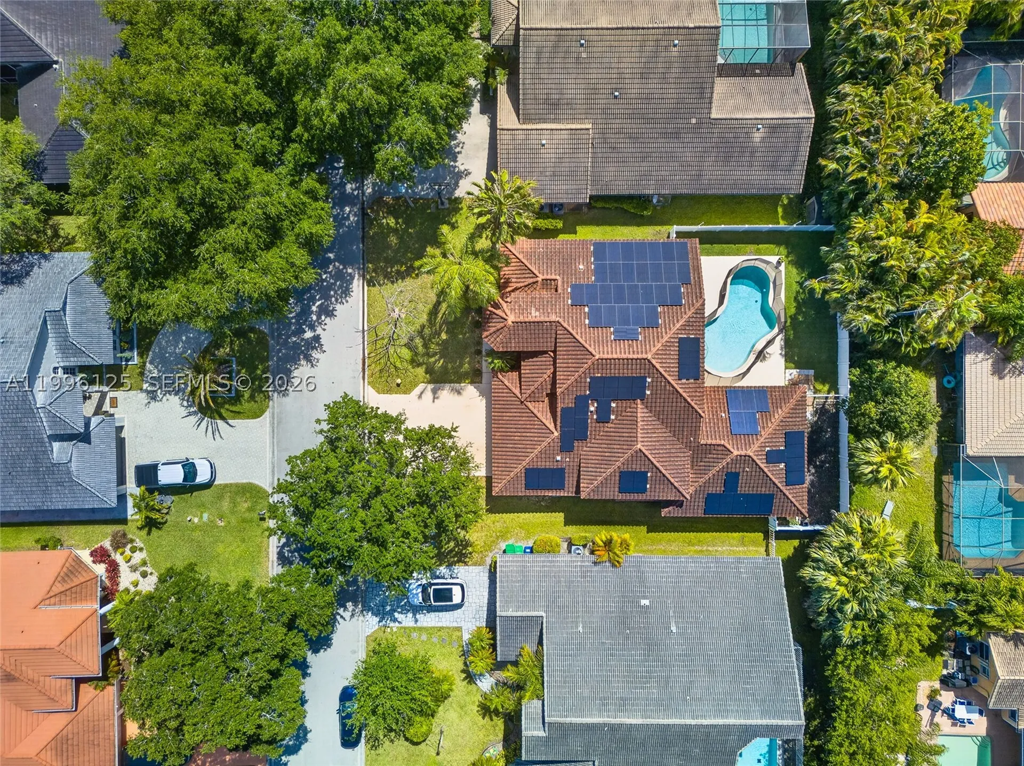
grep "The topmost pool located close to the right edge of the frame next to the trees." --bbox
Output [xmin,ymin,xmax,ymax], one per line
[953,61,1016,183]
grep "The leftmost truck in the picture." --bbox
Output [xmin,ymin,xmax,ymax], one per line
[134,456,219,489]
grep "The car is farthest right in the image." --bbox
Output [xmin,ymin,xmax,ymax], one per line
[407,578,468,611]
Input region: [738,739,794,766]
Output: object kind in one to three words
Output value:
swimming pool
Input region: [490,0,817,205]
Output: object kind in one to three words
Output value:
house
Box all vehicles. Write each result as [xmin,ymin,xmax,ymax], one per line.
[407,578,468,611]
[335,684,366,751]
[134,456,219,489]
